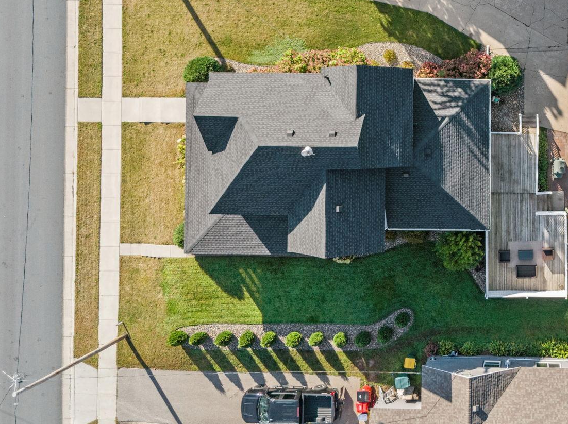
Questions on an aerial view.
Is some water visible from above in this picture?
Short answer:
No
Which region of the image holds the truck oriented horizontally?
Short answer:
bottom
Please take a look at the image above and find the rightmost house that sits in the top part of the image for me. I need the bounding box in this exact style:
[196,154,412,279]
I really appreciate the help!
[186,65,493,259]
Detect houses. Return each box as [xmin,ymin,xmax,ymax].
[186,65,493,259]
[369,355,568,424]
